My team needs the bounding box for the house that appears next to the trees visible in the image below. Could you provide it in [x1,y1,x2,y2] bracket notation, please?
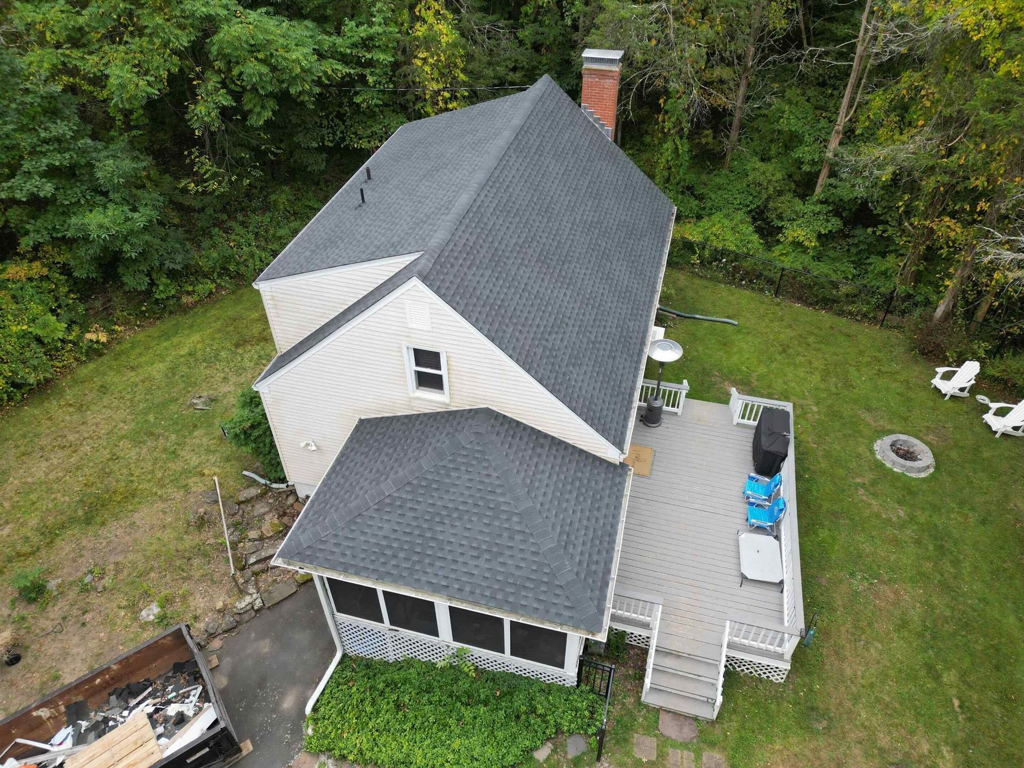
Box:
[251,44,677,720]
